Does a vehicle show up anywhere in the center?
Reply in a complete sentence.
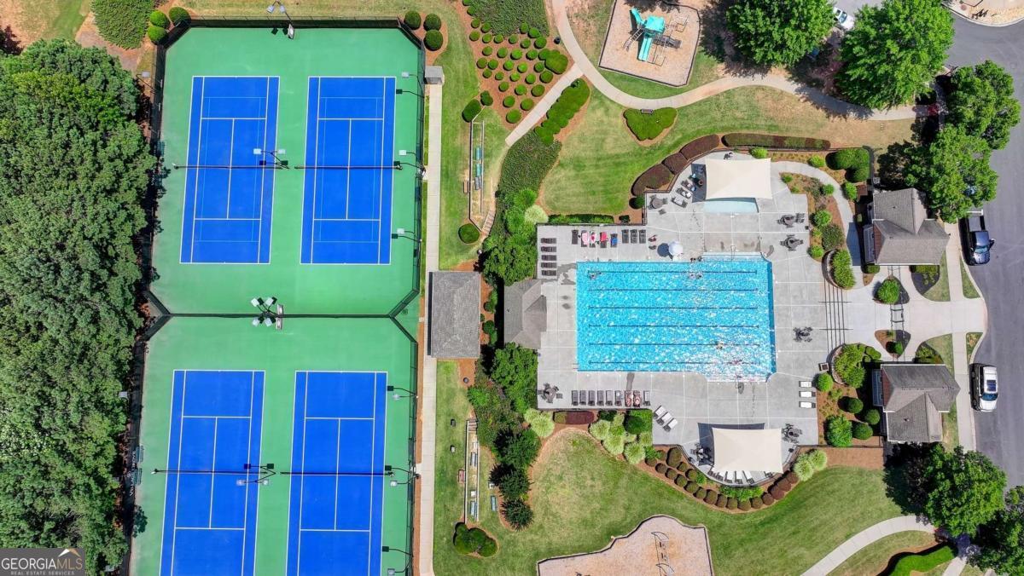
No, no vehicle can be made out in the center.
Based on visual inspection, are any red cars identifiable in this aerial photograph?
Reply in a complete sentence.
No, I can see no red car in this picture.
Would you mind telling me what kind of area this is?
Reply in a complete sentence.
This looks like a sports ground.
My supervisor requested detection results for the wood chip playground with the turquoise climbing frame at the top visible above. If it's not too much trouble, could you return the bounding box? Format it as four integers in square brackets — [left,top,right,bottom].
[596,0,703,89]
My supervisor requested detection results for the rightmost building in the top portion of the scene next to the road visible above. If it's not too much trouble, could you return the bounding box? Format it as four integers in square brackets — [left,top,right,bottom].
[860,187,952,265]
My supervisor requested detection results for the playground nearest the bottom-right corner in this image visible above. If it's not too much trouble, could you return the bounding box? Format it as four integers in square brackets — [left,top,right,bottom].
[534,513,716,576]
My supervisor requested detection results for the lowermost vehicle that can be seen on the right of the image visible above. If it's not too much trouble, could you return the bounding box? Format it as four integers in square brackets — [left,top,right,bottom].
[972,367,1000,410]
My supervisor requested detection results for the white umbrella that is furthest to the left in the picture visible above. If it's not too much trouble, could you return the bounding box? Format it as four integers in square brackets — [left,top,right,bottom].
[668,241,683,256]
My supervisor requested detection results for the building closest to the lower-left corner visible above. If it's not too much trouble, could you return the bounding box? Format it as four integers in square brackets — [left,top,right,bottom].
[430,271,479,358]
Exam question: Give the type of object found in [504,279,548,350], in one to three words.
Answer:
building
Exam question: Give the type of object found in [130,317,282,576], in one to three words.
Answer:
tennis court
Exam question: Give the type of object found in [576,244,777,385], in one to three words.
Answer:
swimming pool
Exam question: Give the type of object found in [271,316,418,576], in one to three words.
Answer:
tennis court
